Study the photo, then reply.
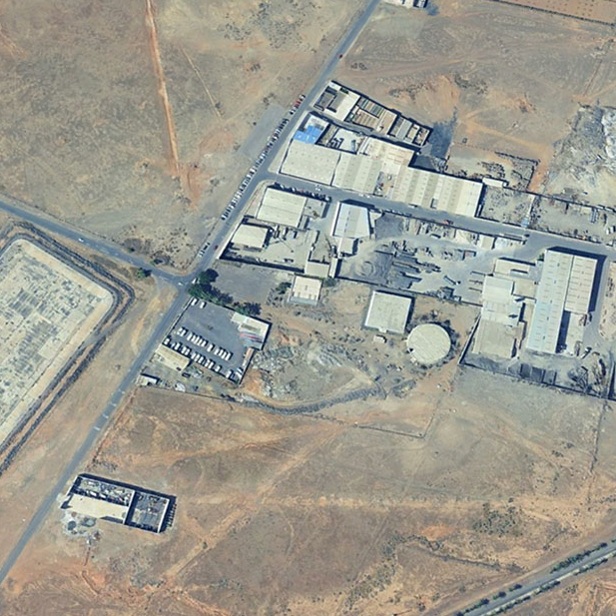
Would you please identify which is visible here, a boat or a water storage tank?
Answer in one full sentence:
Looking from above, you can make out a water storage tank.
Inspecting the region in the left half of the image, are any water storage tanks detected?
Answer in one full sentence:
No, no water storage tank appears in the left half of the image.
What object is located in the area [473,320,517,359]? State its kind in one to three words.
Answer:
building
